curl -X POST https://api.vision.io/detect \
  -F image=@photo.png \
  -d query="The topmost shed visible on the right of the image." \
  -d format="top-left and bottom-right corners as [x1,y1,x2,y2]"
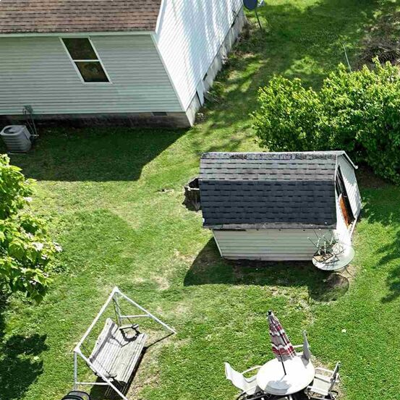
[198,154,360,259]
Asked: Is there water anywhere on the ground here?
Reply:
No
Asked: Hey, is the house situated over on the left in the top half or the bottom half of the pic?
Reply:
top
